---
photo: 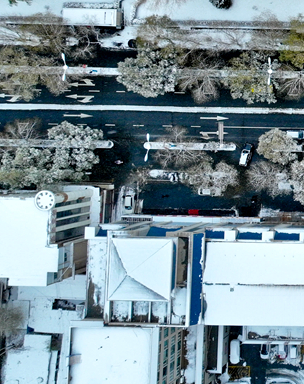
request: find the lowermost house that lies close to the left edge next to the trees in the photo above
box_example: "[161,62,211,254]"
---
[6,343,65,384]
